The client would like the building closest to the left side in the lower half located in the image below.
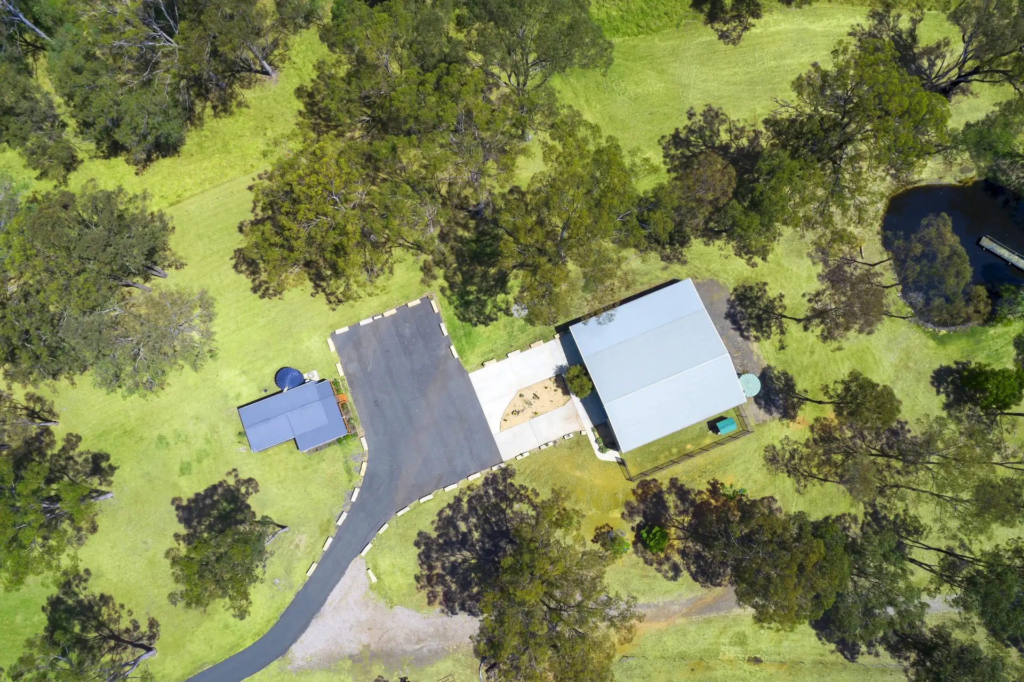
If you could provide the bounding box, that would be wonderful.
[238,380,352,453]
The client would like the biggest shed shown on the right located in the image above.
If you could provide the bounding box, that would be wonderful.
[568,277,748,454]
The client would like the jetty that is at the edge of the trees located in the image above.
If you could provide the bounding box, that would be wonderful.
[976,235,1024,268]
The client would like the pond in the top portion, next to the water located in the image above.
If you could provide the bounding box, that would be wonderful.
[883,177,1024,325]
